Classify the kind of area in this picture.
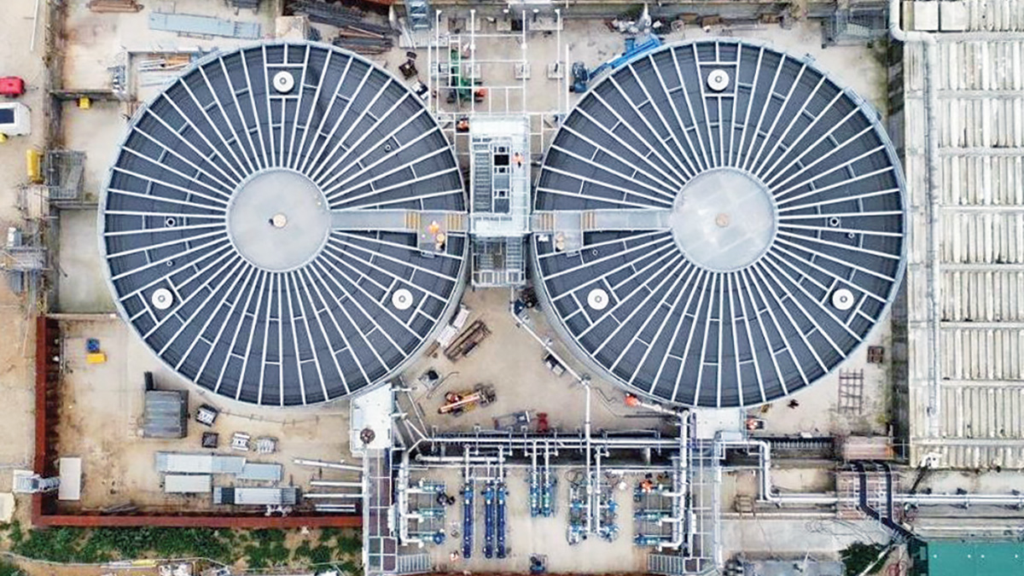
industrial area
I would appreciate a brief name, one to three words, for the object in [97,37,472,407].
storage tank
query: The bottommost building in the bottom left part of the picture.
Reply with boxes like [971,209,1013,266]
[53,459,80,502]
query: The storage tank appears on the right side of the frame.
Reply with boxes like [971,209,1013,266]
[530,36,908,409]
